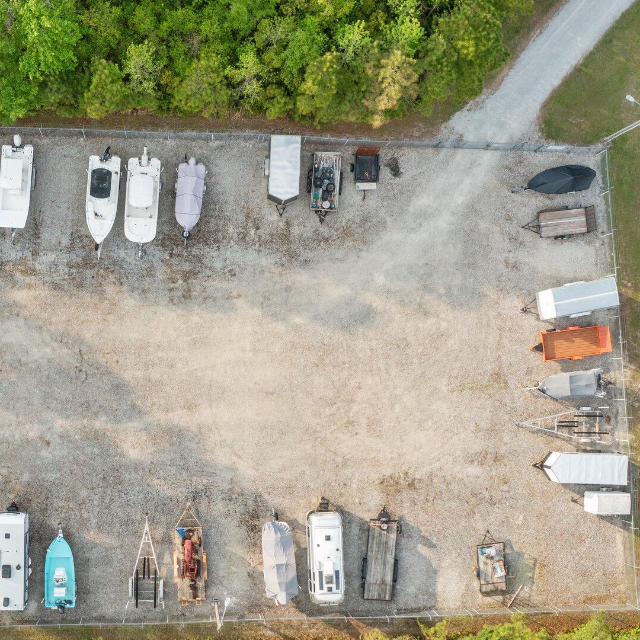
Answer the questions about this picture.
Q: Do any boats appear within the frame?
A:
Yes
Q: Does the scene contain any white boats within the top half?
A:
Yes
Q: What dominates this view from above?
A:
paved ground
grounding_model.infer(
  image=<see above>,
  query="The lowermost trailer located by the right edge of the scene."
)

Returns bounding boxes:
[571,486,631,516]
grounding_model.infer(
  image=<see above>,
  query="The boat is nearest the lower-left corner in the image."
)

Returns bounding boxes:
[45,537,76,619]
